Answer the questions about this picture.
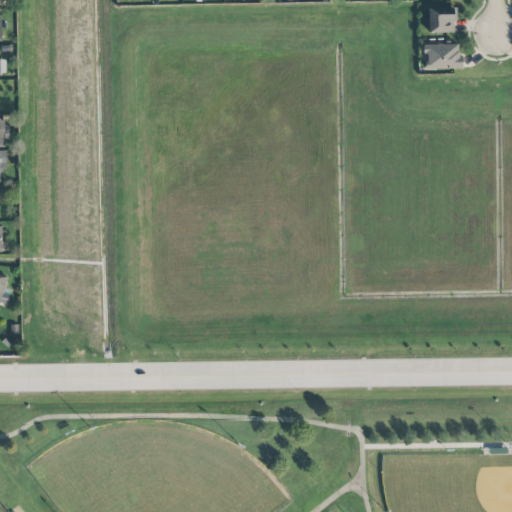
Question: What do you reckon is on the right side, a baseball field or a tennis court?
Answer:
baseball field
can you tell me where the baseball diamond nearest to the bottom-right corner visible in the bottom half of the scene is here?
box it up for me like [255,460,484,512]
[382,454,512,512]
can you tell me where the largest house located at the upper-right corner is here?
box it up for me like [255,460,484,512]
[424,44,464,69]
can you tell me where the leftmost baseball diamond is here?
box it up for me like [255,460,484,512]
[28,421,290,512]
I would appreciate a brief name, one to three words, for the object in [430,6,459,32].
house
